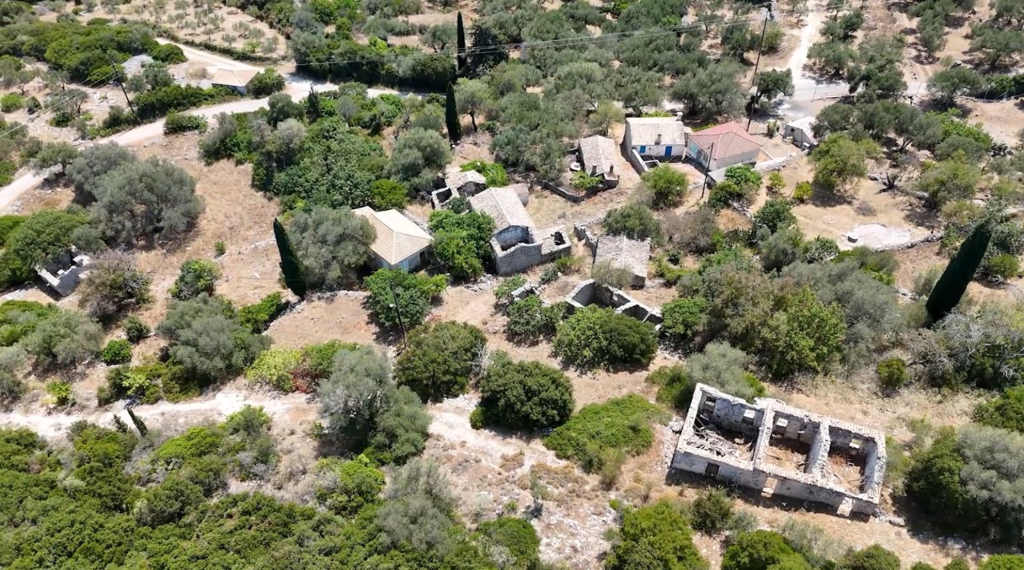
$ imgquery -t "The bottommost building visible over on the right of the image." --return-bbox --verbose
[589,234,654,290]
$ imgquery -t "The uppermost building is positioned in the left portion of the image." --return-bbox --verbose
[211,66,263,99]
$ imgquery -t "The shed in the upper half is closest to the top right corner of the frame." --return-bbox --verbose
[784,118,831,152]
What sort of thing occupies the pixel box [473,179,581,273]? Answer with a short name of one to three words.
house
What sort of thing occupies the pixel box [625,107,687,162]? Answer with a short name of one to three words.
house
